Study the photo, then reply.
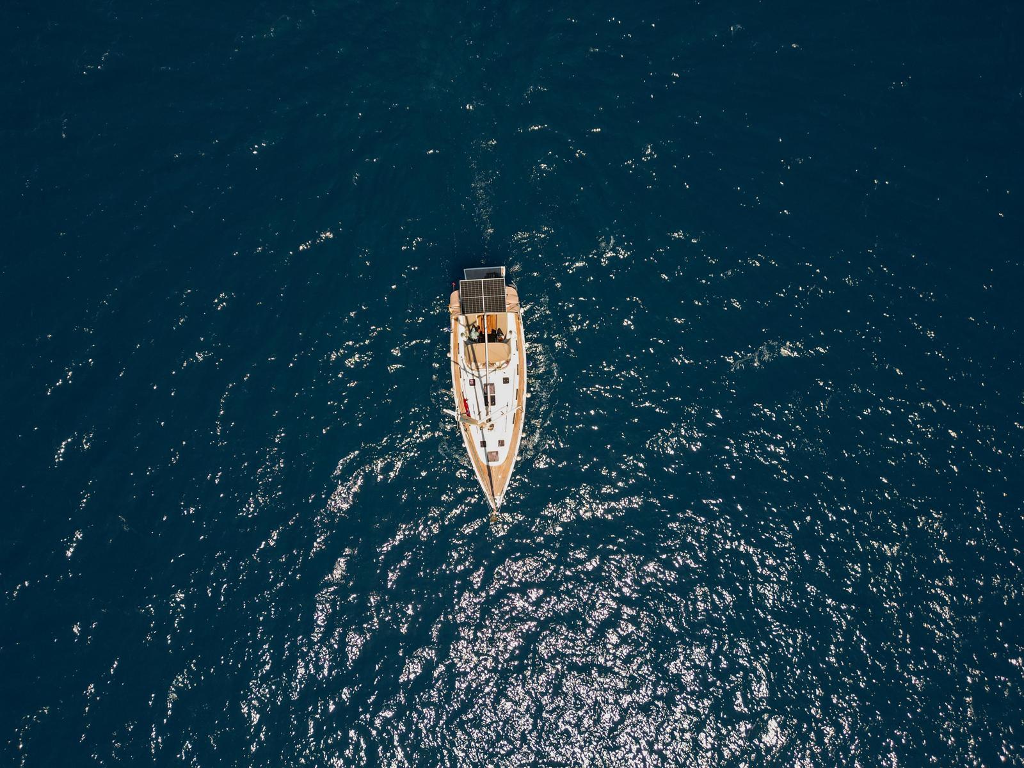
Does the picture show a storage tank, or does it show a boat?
boat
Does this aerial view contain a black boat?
No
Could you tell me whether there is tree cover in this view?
No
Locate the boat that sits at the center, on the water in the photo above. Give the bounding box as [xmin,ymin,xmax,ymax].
[442,267,527,514]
